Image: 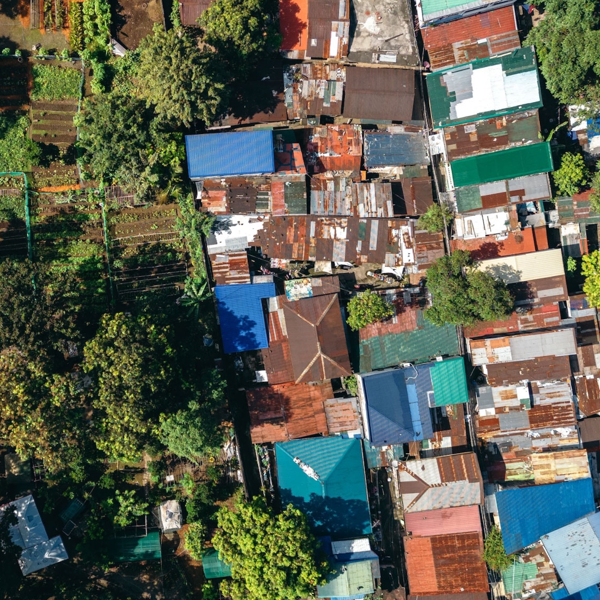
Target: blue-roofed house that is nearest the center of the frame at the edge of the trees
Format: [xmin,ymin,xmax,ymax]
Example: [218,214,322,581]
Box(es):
[215,283,275,353]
